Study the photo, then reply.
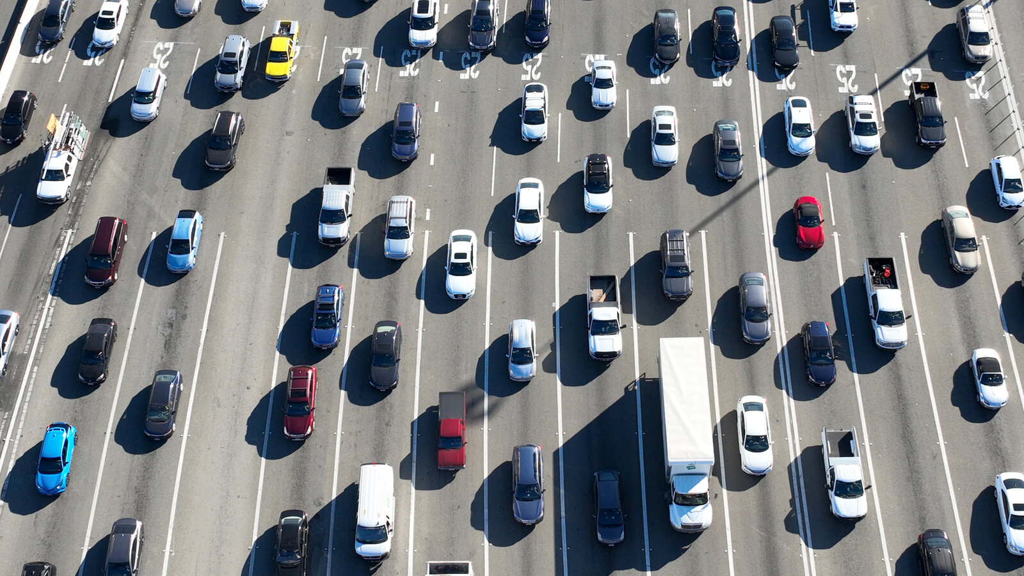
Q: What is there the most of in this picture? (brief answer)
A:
paved ground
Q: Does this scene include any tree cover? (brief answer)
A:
No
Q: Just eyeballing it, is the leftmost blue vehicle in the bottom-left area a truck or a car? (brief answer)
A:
car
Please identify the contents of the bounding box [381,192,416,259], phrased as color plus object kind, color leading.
white car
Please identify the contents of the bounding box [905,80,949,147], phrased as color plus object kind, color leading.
black truck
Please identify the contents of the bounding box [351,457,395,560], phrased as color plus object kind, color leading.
white van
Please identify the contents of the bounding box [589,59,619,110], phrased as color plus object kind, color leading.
white car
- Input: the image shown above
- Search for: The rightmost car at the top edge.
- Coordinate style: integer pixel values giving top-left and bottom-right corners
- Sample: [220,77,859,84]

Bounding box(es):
[954,8,994,64]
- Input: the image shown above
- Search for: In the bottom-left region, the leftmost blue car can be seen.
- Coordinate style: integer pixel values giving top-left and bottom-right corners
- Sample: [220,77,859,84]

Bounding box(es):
[33,424,81,496]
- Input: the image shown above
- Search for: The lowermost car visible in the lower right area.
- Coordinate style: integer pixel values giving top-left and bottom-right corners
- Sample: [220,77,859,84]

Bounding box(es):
[915,527,959,576]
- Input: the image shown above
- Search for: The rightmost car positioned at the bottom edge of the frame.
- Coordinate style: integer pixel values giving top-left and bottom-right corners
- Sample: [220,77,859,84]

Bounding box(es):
[991,474,1024,556]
